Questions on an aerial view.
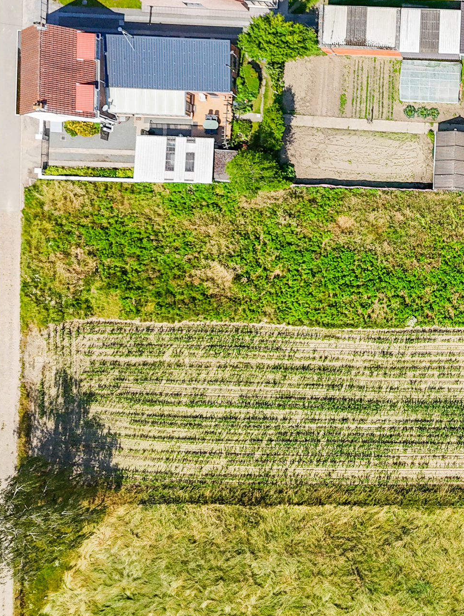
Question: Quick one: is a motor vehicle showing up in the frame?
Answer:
No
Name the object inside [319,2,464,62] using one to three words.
shed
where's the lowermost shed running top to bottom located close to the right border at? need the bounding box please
[432,129,464,192]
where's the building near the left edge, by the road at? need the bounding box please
[15,20,115,125]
